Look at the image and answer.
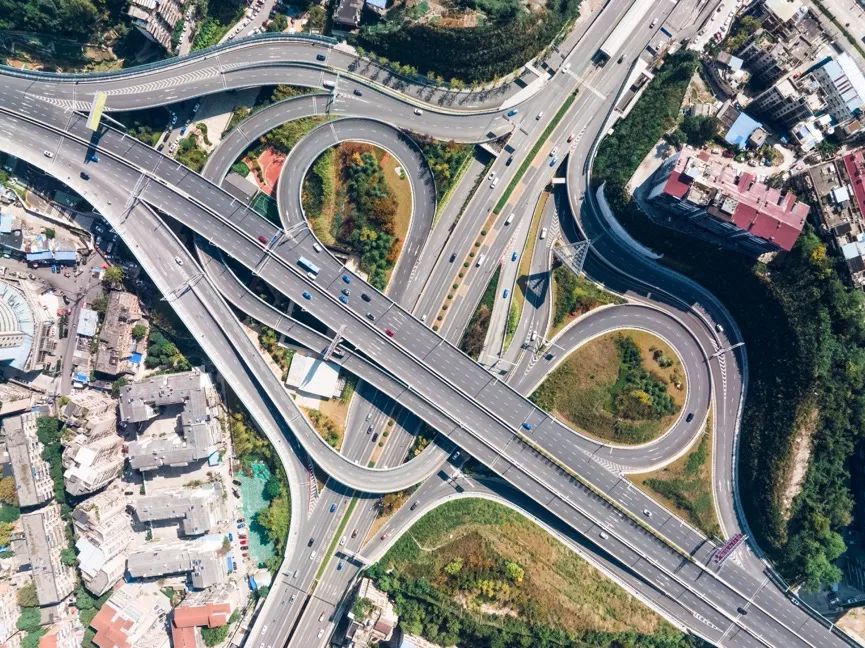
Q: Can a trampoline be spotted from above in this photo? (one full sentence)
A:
No, the picture doesn't show any trampoline.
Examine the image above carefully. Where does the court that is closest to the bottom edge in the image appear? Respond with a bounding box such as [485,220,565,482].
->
[250,193,282,227]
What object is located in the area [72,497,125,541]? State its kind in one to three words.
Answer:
building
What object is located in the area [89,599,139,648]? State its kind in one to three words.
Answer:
house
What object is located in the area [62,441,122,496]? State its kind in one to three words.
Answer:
building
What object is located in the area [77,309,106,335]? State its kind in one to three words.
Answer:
house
